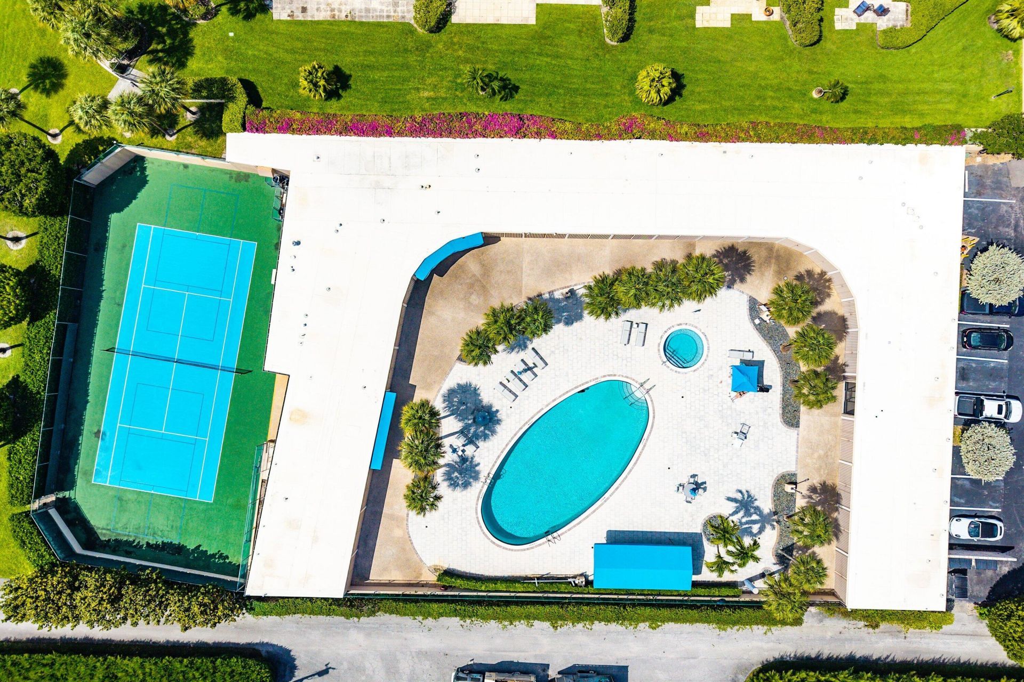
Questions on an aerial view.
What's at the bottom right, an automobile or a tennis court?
automobile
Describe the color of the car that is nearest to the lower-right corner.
white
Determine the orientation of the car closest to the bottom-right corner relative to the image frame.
horizontally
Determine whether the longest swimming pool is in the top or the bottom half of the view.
bottom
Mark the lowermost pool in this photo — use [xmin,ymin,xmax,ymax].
[473,372,657,553]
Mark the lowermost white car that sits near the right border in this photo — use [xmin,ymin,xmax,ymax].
[949,516,1003,544]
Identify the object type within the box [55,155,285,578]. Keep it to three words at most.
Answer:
tennis court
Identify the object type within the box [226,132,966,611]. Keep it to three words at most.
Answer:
building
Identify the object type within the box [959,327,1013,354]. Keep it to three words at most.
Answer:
car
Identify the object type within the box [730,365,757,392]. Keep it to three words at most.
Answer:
umbrella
